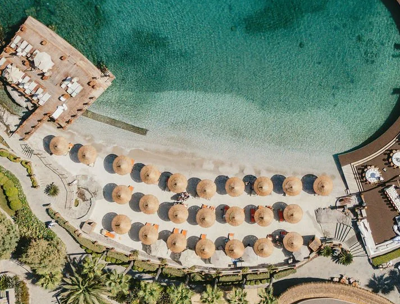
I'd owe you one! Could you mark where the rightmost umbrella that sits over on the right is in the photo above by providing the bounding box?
[312,175,334,195]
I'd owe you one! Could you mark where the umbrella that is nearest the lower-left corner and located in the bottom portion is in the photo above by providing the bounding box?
[111,214,131,234]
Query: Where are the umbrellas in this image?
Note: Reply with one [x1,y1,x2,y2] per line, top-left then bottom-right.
[283,204,303,224]
[179,247,199,267]
[112,185,131,204]
[225,177,245,196]
[78,145,98,165]
[254,238,274,258]
[196,239,216,259]
[139,194,160,214]
[166,232,187,254]
[210,248,229,268]
[140,164,161,184]
[254,206,274,227]
[312,175,334,195]
[139,224,158,245]
[112,155,133,175]
[283,231,303,252]
[111,214,131,234]
[240,245,261,265]
[167,173,188,193]
[197,179,216,199]
[149,238,169,258]
[49,136,70,156]
[225,206,245,225]
[225,239,245,259]
[196,208,216,228]
[253,176,273,196]
[169,204,189,224]
[291,243,311,262]
[282,176,302,196]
